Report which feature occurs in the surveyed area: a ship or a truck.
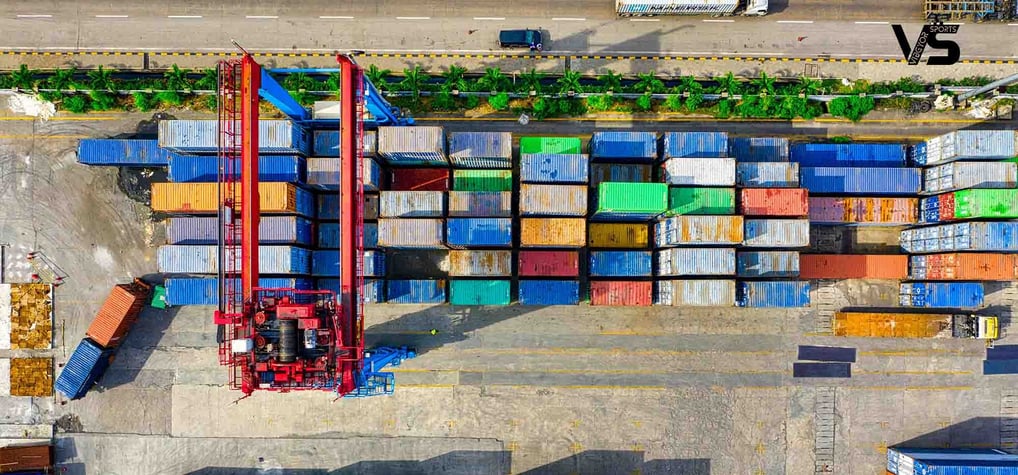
truck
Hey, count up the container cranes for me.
1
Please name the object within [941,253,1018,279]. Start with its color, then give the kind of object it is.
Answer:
orange shipping container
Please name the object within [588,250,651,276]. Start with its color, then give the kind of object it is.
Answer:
blue shipping container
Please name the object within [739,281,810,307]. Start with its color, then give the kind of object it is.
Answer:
blue shipping container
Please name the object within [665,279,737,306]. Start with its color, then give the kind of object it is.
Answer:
white shipping container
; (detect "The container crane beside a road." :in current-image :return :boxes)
[213,35,424,403]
